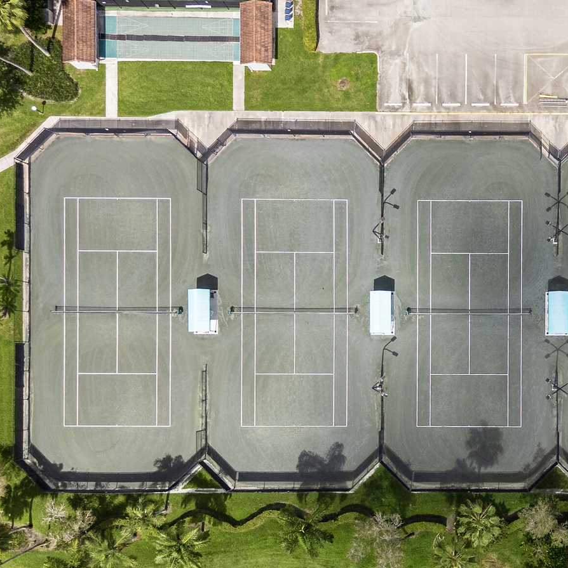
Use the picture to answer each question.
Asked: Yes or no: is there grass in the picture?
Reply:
Yes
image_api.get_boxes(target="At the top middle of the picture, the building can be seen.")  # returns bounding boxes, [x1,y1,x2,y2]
[239,0,276,69]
